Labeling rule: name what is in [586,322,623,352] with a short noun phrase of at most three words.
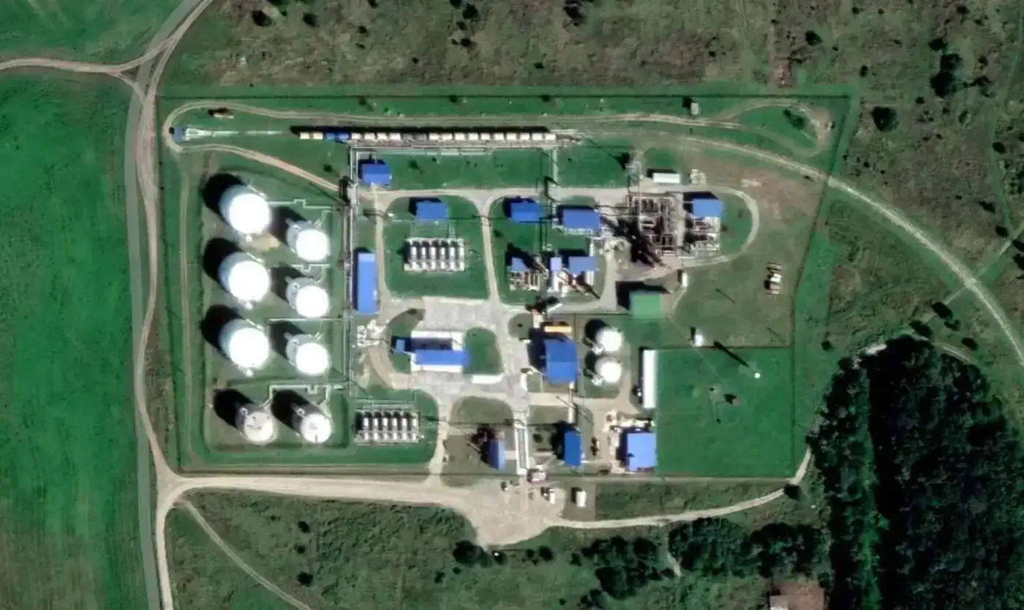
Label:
water tank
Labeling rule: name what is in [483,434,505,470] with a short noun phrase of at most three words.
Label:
building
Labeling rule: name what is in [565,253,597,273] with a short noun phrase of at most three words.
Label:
house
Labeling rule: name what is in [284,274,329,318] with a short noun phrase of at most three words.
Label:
storage tank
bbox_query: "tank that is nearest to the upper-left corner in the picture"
[220,182,270,243]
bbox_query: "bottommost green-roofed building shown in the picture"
[626,288,664,317]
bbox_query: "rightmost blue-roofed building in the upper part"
[687,195,722,217]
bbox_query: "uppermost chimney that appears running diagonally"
[572,275,602,298]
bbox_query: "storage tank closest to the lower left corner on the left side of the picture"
[232,400,274,443]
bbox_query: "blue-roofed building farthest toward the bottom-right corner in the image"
[623,429,657,472]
